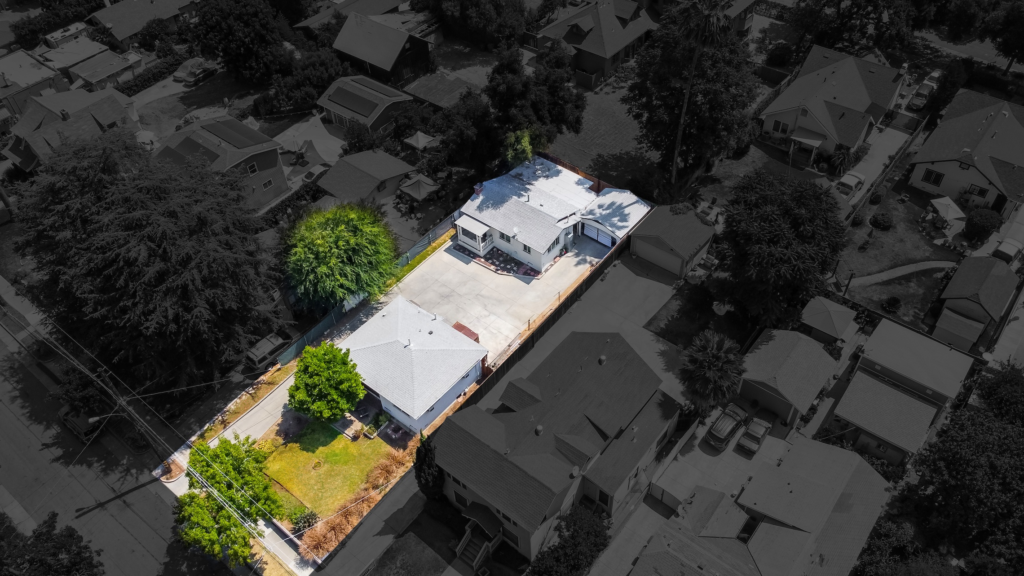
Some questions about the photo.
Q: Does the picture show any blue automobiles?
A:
No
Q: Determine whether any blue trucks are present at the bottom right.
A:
No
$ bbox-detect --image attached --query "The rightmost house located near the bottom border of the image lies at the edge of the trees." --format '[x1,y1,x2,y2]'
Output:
[623,423,890,576]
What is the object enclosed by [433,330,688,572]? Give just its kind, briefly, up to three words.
house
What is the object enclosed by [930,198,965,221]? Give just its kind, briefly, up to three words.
umbrella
